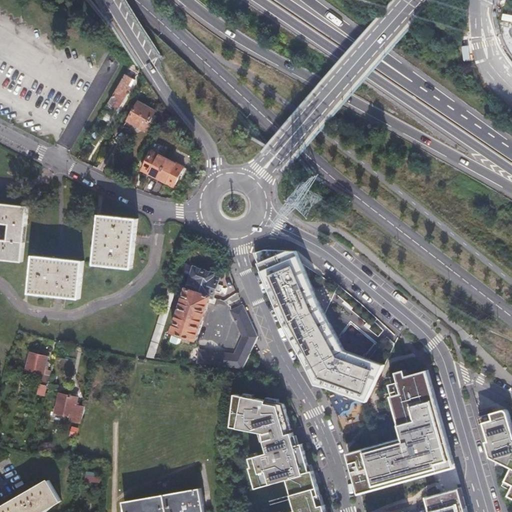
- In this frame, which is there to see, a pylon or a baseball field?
pylon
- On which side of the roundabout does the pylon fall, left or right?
on the right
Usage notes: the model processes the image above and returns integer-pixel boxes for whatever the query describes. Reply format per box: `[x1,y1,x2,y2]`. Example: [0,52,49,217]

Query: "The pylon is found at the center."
[276,180,327,230]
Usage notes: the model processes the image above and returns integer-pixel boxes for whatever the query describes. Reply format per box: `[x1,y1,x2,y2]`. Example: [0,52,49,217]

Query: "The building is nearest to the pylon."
[252,250,388,402]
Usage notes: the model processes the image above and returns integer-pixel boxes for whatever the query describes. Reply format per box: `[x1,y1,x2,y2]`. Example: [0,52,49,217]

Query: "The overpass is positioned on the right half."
[258,0,418,183]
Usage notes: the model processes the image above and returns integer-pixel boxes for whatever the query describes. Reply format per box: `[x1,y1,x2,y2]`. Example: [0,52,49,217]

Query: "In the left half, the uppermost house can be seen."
[108,65,140,109]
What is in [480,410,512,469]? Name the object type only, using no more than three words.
building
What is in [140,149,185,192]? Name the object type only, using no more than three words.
house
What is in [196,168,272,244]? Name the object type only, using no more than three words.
roundabout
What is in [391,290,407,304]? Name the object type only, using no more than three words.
vehicle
